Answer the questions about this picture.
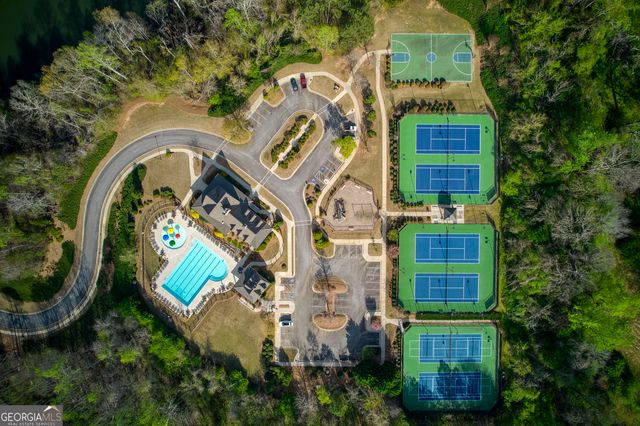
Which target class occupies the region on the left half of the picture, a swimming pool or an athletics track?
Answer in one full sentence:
Looking on the left half of the picture, you will find a swimming pool.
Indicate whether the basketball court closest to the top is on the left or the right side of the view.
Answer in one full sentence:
It is on the right.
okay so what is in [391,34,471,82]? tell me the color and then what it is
green basketball court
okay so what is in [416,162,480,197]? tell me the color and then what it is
blue tennis court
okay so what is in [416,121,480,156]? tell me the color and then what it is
blue tennis court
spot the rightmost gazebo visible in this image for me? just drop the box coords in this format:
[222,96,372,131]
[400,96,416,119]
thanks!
[441,206,457,220]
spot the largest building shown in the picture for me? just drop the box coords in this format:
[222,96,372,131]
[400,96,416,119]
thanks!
[190,174,273,250]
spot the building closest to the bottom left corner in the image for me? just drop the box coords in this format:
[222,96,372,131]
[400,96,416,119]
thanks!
[229,268,271,307]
